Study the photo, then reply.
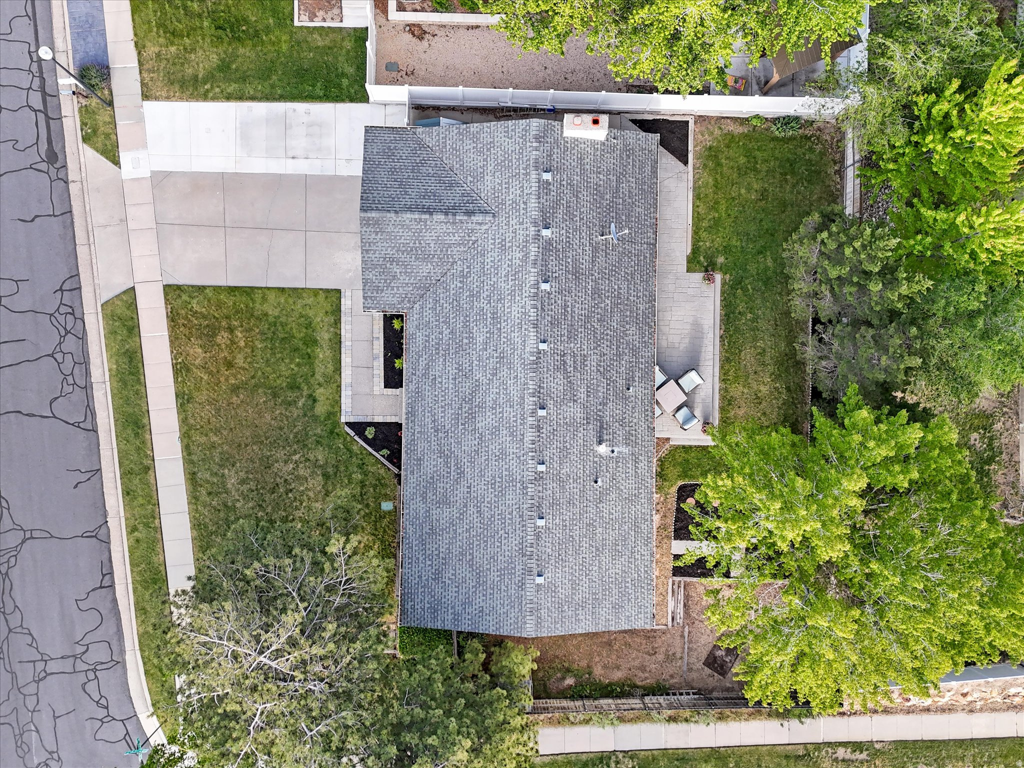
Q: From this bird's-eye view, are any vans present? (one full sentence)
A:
No, no van is visible in the scene.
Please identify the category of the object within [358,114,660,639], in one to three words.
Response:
house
